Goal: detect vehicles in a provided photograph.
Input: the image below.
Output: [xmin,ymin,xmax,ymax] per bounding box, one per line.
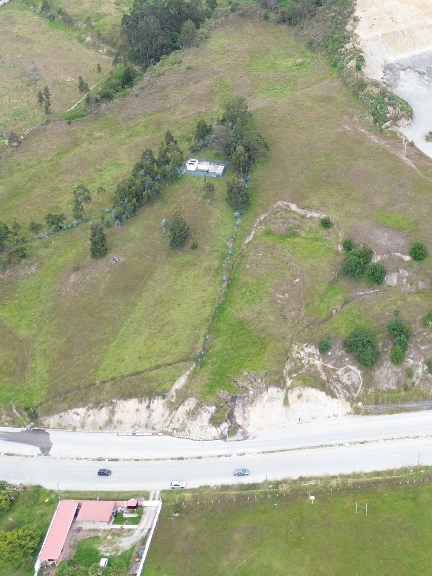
[234,470,249,477]
[95,469,113,477]
[169,481,185,489]
[95,555,112,574]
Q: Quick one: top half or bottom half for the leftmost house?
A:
bottom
